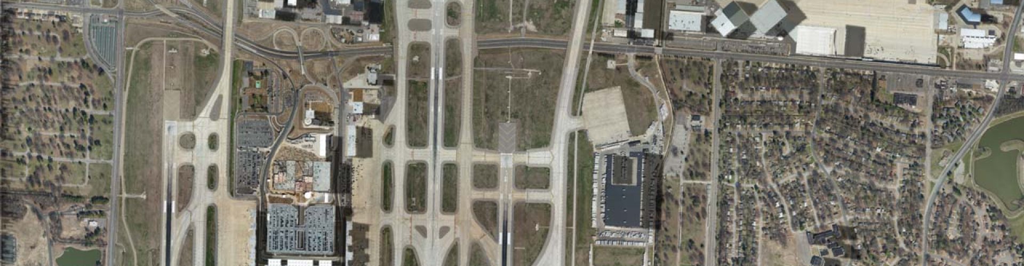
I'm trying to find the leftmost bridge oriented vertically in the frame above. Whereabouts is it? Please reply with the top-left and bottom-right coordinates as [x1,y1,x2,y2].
[222,17,240,53]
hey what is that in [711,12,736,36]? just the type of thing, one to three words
hangar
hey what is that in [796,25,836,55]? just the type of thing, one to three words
building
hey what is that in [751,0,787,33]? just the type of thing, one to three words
hangar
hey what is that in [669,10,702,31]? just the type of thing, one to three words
building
